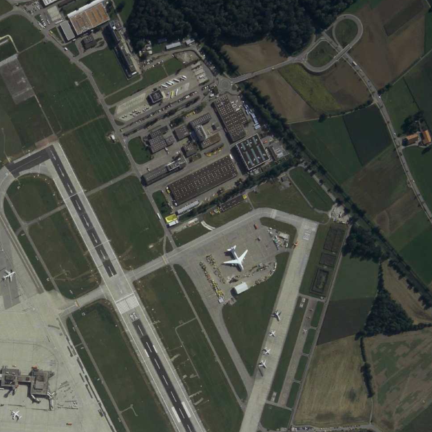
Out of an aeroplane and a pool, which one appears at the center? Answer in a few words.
aeroplane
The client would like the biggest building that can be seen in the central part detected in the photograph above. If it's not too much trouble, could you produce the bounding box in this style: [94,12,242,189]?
[168,155,238,204]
